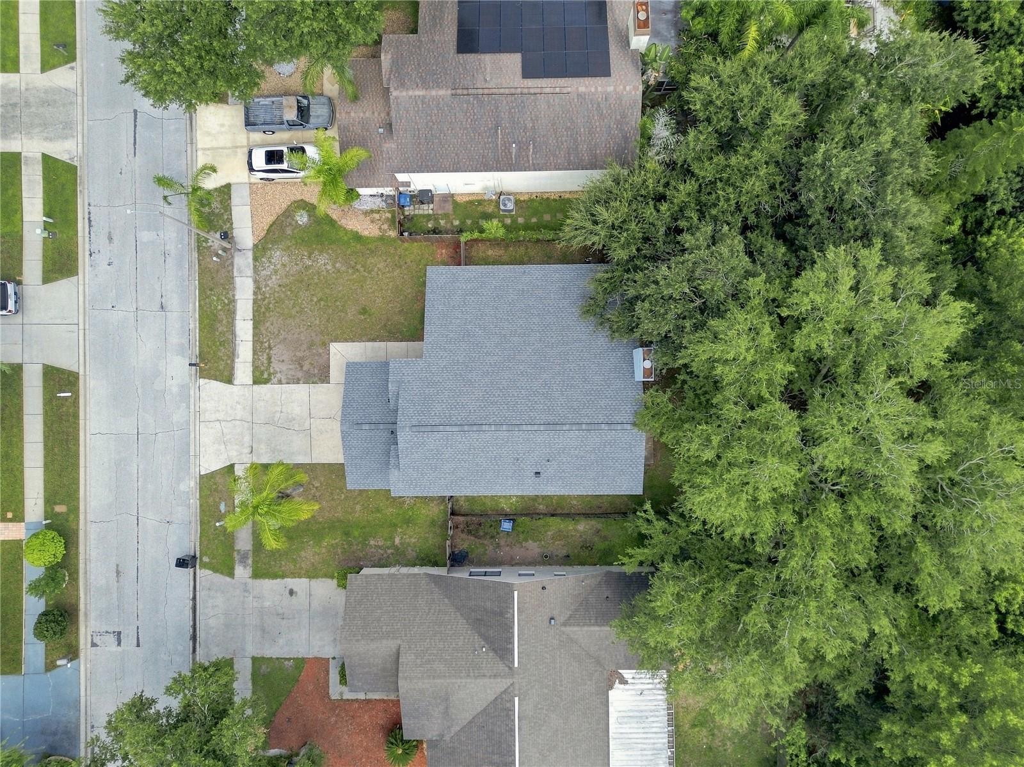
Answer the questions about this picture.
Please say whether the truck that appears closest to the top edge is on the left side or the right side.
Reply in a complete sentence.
The truck that appears closest to the top edge is on the left side of the image.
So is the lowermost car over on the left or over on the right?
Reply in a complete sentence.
You can find the lowermost car on the left side of the picture.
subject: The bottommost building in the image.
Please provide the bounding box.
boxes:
[341,564,666,767]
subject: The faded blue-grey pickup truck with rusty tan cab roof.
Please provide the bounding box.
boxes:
[242,92,336,132]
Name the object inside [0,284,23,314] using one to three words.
car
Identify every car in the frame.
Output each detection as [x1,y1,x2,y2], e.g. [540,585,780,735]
[246,144,323,182]
[0,284,23,314]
